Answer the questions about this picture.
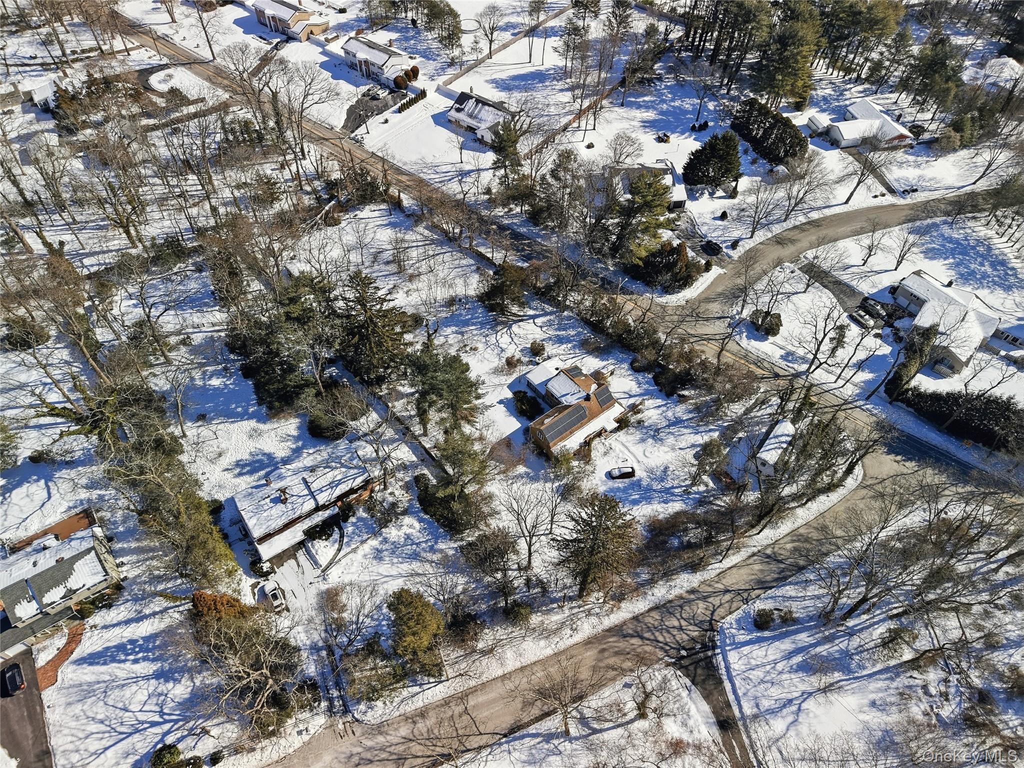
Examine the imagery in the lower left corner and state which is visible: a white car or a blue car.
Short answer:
white car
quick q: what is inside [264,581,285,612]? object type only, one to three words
car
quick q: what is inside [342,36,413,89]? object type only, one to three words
house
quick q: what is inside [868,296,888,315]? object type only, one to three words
car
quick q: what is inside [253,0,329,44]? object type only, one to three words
house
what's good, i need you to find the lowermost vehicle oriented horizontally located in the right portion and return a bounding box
[609,466,637,480]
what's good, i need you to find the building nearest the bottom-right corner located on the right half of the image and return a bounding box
[743,419,794,477]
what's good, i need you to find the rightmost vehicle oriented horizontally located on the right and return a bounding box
[701,240,723,252]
